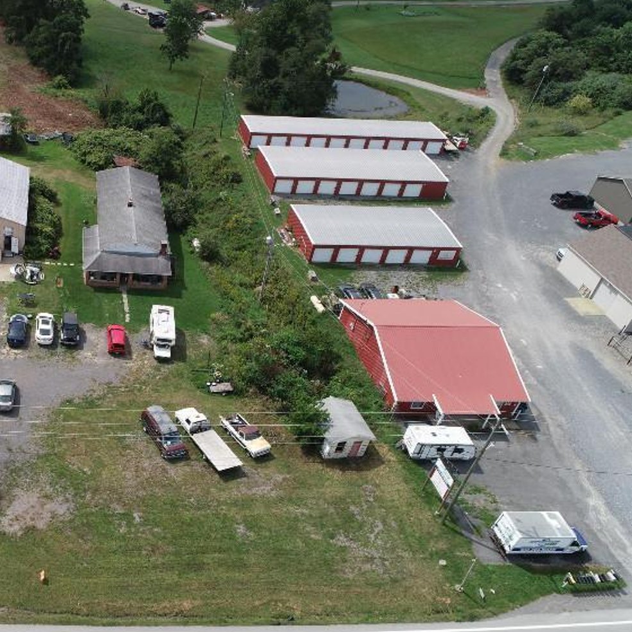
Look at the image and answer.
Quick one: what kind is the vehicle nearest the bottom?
truck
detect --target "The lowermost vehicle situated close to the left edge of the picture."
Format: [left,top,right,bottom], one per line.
[0,376,18,410]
